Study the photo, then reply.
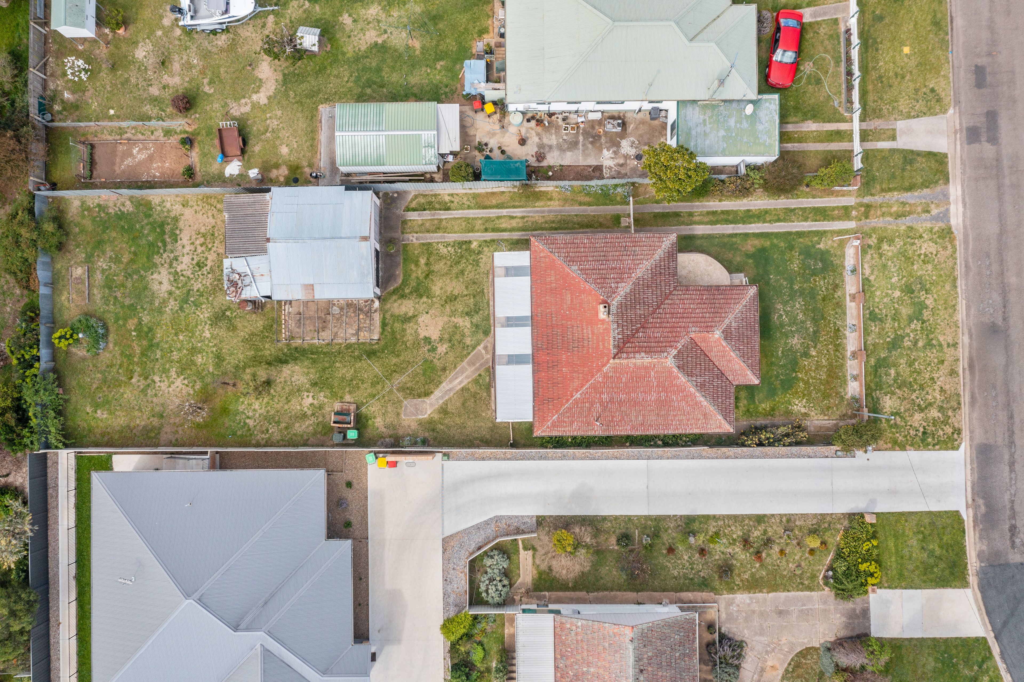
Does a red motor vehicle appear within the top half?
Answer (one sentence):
Yes, the scene does show a red motor vehicle within the top half.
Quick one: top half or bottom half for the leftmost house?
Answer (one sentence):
The leftmost house sits in the top half of the picture.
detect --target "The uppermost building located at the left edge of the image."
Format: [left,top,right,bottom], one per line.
[48,0,107,46]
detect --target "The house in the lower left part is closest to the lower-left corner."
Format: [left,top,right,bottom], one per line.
[89,467,372,682]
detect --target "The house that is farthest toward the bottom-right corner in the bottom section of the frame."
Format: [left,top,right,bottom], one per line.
[520,604,698,682]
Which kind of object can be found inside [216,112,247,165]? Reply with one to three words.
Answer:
trailer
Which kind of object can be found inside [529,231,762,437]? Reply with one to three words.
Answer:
house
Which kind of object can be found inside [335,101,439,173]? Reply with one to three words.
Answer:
shed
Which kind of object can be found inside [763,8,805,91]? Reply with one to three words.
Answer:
car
